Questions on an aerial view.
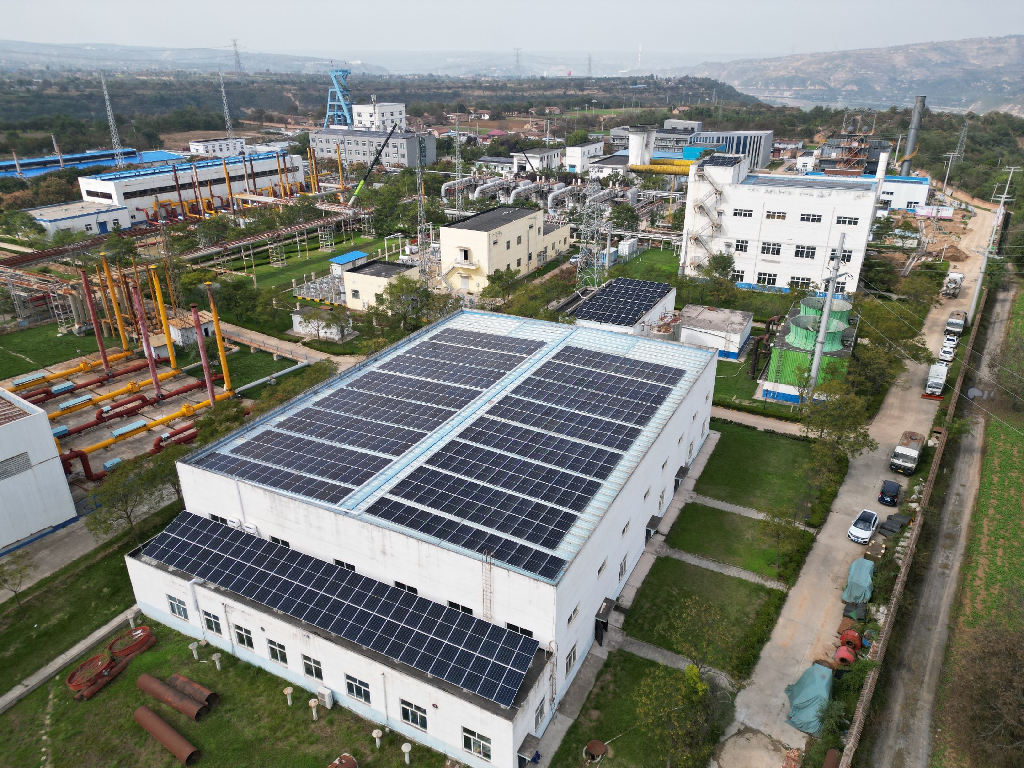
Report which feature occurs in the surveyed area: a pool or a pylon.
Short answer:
pylon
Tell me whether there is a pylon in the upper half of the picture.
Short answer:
Yes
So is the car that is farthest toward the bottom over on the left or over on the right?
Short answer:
right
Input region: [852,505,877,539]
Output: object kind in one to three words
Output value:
car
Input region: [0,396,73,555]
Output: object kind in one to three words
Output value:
building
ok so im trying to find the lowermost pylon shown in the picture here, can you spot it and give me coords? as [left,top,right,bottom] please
[567,165,612,299]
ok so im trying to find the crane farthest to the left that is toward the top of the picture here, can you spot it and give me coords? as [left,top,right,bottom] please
[340,122,399,214]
